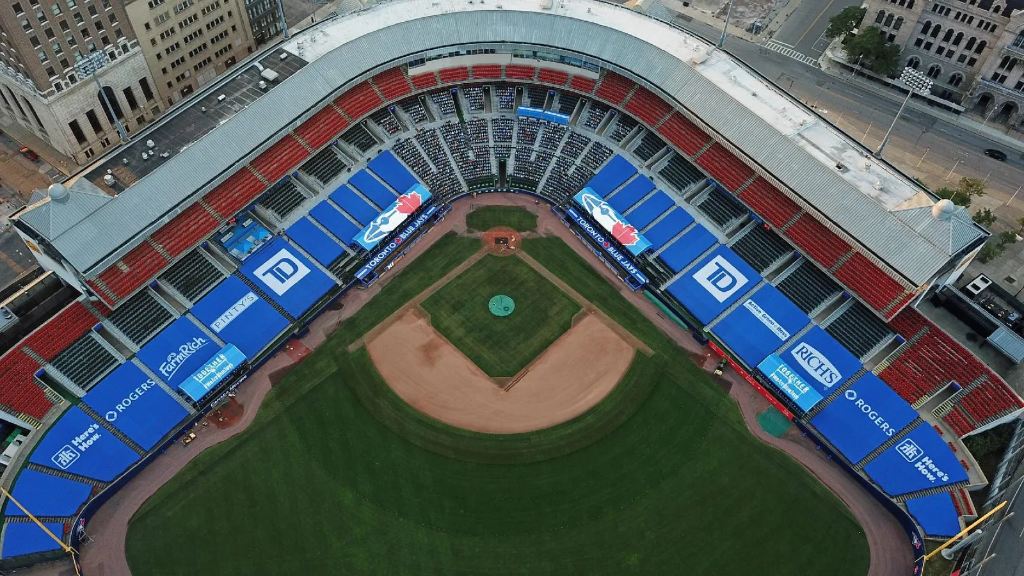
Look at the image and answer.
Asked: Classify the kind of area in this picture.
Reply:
sports ground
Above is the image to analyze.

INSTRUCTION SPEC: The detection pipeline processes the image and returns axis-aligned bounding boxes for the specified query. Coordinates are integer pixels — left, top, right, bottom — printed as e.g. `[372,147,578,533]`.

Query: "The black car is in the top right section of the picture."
[986,146,1007,159]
